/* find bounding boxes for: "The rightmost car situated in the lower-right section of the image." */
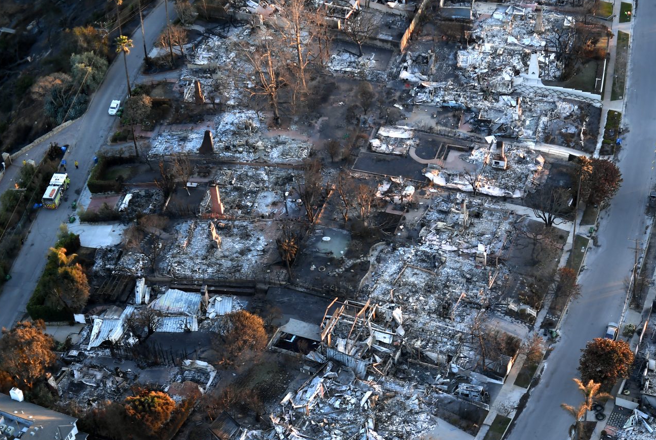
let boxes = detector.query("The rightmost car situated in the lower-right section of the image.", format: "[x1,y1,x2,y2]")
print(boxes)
[603,319,623,342]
